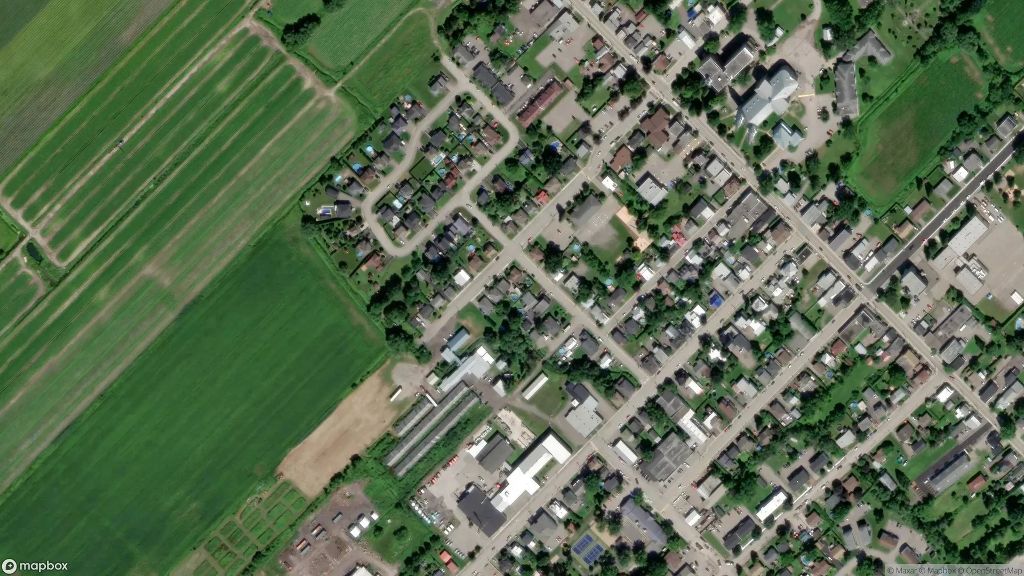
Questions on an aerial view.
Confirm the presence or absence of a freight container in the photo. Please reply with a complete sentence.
No, the picture doesn't show any freight container.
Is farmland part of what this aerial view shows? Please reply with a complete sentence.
Yes, farmland can be seen from above here.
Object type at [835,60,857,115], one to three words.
building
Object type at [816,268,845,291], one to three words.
house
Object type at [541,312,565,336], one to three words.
building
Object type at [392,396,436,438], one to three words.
barn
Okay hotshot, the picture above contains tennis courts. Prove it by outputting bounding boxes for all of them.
[583,543,605,565]
[572,534,594,555]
